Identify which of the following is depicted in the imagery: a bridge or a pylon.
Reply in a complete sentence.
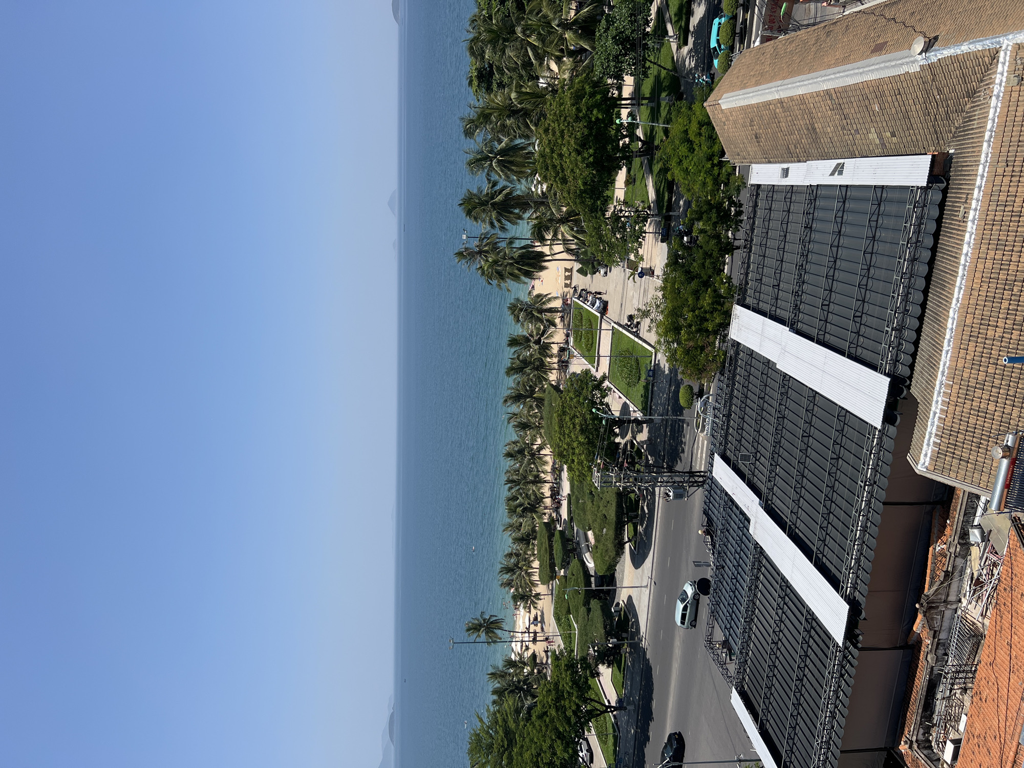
The one in the frame is a pylon.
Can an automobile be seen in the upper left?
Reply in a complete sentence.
No, no automobile is visible in the upper left.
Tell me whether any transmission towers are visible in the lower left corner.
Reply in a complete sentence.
No, there is no transmission tower in the lower left corner.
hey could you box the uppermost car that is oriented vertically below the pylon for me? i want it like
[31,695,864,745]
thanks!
[670,575,698,629]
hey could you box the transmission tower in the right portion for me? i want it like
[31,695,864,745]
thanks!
[592,465,721,494]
